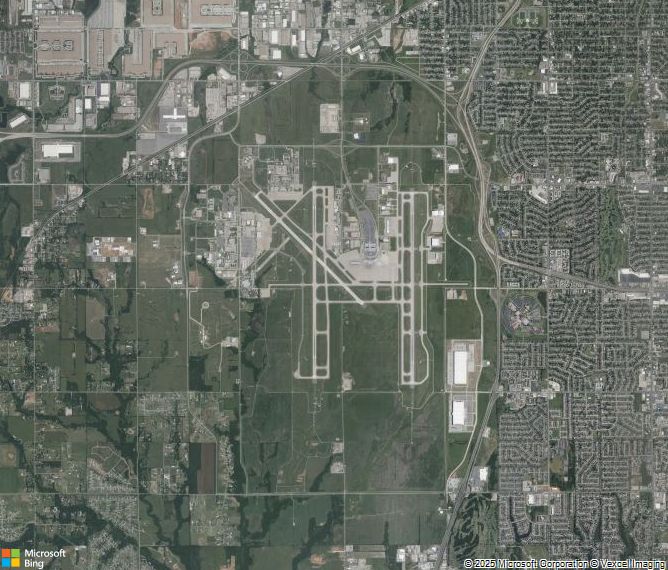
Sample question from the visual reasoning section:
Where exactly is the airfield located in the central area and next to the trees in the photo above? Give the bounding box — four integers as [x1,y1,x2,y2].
[254,157,470,385]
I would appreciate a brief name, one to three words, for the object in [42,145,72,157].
building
